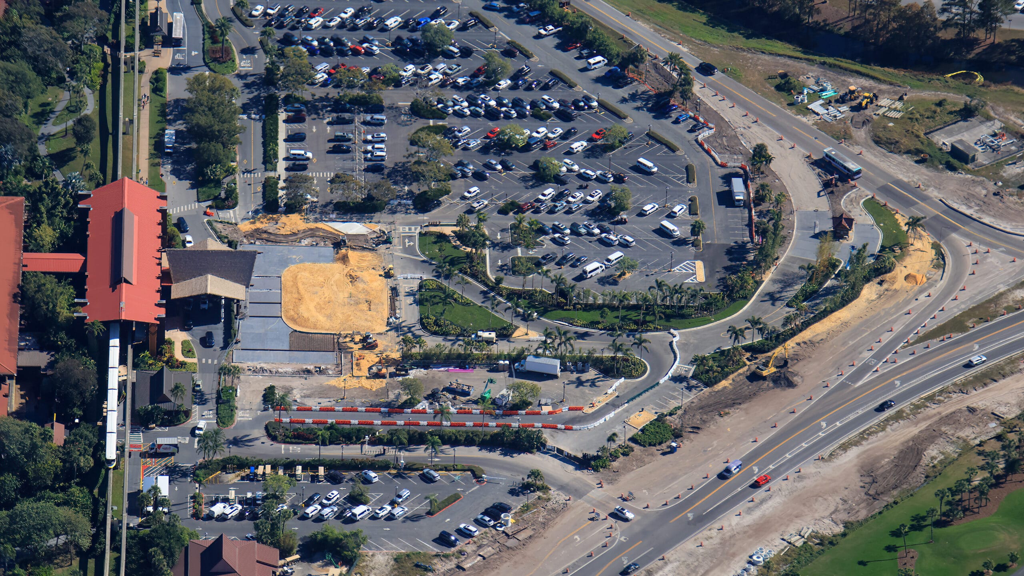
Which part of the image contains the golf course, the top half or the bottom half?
bottom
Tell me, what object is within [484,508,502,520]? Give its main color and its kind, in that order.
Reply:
black vehicle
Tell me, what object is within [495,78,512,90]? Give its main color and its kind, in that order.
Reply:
white vehicle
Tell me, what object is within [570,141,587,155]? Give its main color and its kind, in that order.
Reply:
white vehicle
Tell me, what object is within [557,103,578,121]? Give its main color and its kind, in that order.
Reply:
black vehicle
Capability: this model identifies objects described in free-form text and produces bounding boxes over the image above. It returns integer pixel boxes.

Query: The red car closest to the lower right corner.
[754,475,772,488]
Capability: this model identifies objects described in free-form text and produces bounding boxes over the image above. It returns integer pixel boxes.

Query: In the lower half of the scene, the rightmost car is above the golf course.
[969,355,988,367]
